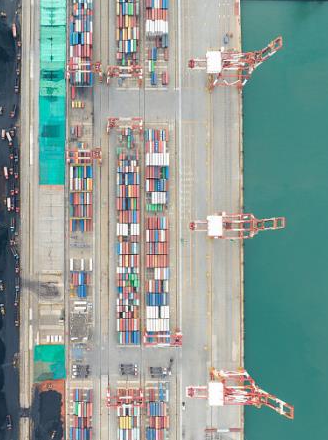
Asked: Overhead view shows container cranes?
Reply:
Yes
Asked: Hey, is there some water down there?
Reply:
Yes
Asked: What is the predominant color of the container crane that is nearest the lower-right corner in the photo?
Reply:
white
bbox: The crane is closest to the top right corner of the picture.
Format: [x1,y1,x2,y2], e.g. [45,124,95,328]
[187,34,283,96]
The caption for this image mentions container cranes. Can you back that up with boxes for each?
[144,330,187,345]
[188,214,286,240]
[107,118,145,133]
[65,63,102,81]
[107,389,146,407]
[188,365,293,419]
[107,66,145,85]
[187,34,283,96]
